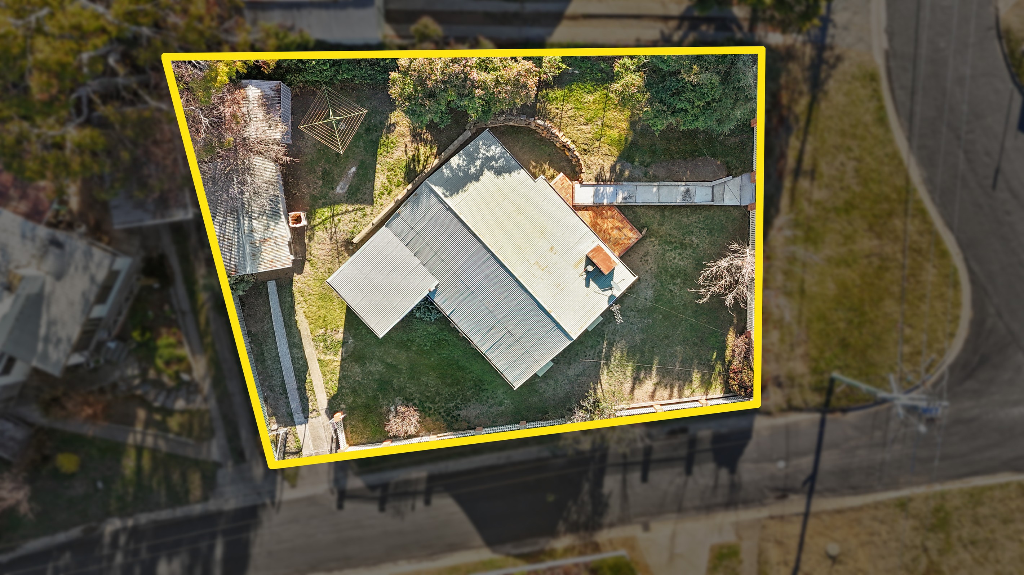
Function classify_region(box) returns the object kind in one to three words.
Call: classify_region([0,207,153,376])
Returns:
house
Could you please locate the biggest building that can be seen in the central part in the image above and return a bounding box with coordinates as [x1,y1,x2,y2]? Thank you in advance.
[326,129,639,391]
